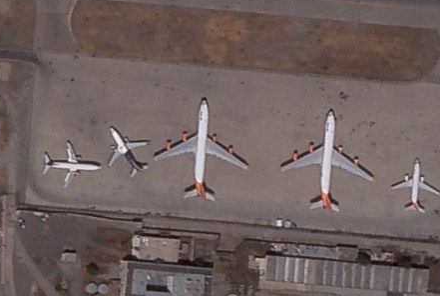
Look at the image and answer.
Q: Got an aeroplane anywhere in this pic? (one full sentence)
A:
Yes, this view includes an aeroplane.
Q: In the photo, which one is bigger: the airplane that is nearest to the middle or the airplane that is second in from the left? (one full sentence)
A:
Of the two, the airplane that is nearest to the middle is bigger, while the airplane that is second in from the left is smaller.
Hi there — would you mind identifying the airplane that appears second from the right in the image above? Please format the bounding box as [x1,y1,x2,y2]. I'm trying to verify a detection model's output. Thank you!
[282,109,377,210]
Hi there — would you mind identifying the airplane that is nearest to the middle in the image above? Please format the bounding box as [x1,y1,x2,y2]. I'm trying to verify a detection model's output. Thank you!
[154,99,250,201]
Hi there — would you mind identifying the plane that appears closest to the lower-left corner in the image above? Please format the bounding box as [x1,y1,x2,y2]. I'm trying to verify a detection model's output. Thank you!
[46,142,102,189]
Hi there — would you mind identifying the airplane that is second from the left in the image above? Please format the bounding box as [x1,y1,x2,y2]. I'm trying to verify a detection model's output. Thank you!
[112,127,151,178]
